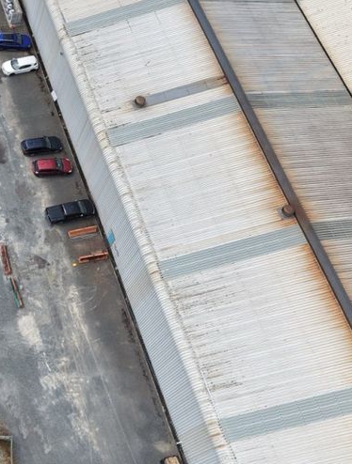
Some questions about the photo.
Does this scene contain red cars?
Yes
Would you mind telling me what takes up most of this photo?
buildings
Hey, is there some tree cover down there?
No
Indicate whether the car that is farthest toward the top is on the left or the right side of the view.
left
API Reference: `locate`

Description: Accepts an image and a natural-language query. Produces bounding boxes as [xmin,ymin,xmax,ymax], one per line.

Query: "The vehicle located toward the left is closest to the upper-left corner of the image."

[0,31,31,51]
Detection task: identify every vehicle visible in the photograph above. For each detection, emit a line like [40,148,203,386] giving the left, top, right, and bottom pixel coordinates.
[2,55,39,76]
[45,199,95,224]
[0,31,31,51]
[33,157,73,177]
[21,134,64,155]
